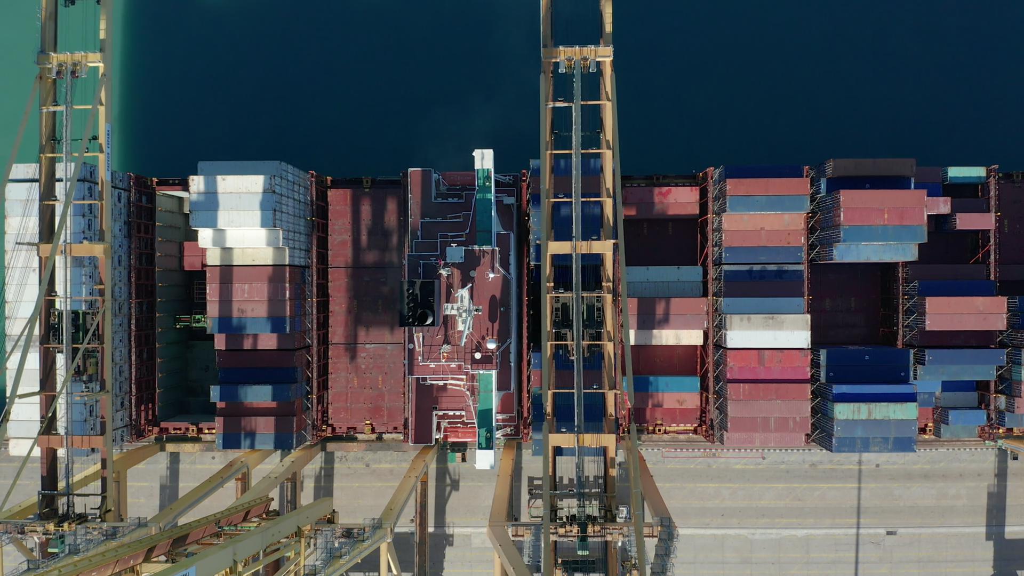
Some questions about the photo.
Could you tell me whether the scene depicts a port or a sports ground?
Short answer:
port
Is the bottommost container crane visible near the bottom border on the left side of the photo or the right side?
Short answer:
left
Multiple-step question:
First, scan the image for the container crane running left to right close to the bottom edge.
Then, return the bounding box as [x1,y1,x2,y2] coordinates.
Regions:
[42,437,464,576]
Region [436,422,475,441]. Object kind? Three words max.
boat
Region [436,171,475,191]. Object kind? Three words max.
boat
